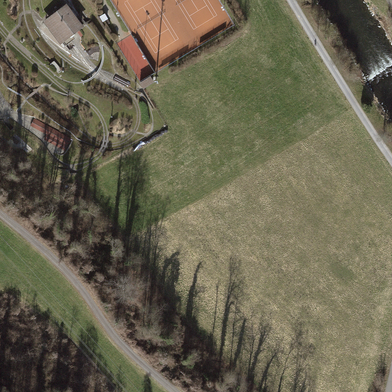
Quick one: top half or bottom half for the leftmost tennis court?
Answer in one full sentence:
The top half of the photo is where the leftmost tennis court is.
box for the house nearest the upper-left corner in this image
[44,3,83,42]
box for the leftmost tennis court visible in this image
[112,0,196,71]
